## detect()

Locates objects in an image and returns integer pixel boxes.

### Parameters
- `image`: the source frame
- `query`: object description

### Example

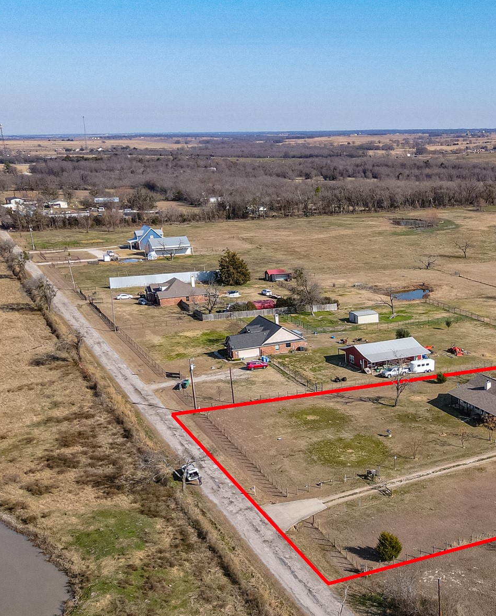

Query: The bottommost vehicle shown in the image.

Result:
[181,465,199,481]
